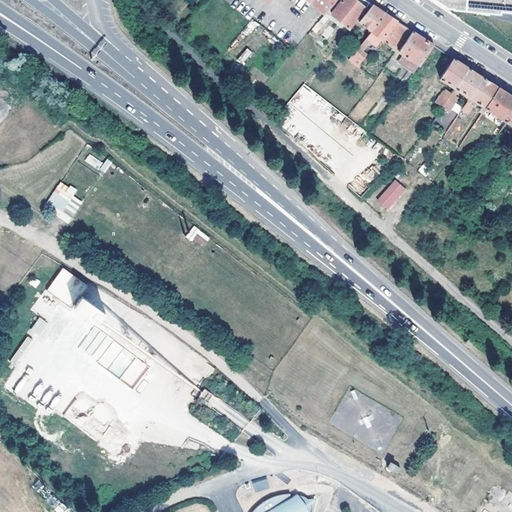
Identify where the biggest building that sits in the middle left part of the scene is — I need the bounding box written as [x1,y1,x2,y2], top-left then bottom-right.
[48,268,87,306]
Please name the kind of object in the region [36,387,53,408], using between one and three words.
vehicle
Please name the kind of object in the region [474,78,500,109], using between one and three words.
house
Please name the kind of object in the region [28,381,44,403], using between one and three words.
vehicle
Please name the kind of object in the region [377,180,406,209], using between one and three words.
shed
